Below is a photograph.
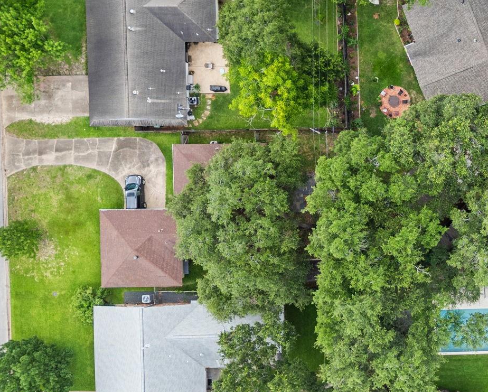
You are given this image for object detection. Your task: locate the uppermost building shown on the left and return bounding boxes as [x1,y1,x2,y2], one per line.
[86,0,222,127]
